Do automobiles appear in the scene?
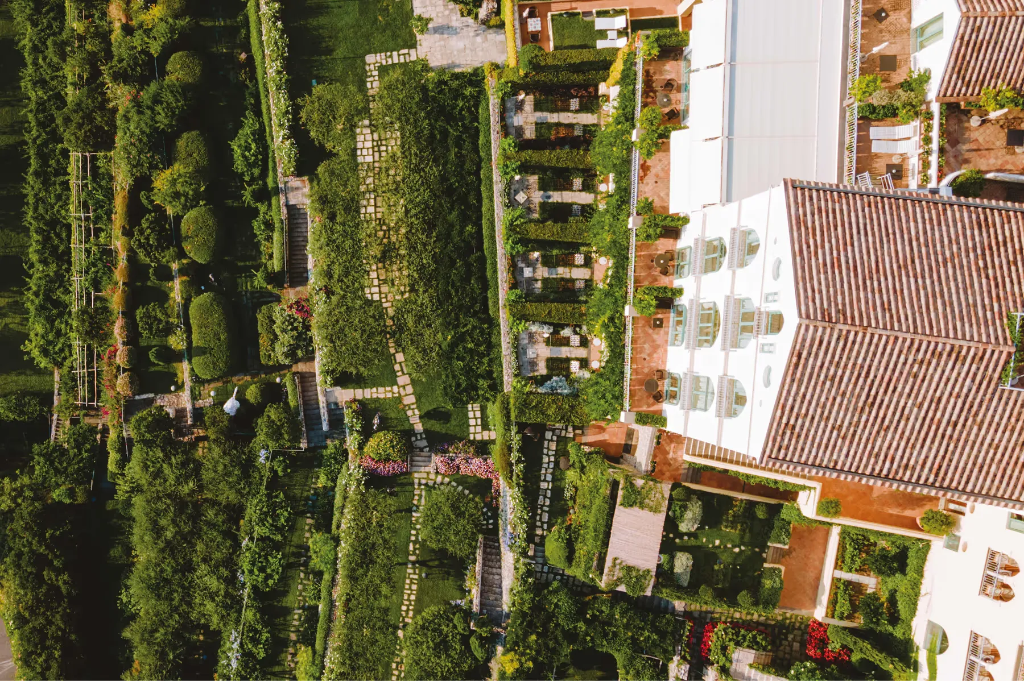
No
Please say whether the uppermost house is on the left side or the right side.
right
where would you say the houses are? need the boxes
[655,175,1024,509]
[912,0,1024,103]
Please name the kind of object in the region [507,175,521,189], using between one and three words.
umbrella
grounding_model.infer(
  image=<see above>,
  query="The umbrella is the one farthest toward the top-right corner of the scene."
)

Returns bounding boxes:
[970,104,1021,128]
